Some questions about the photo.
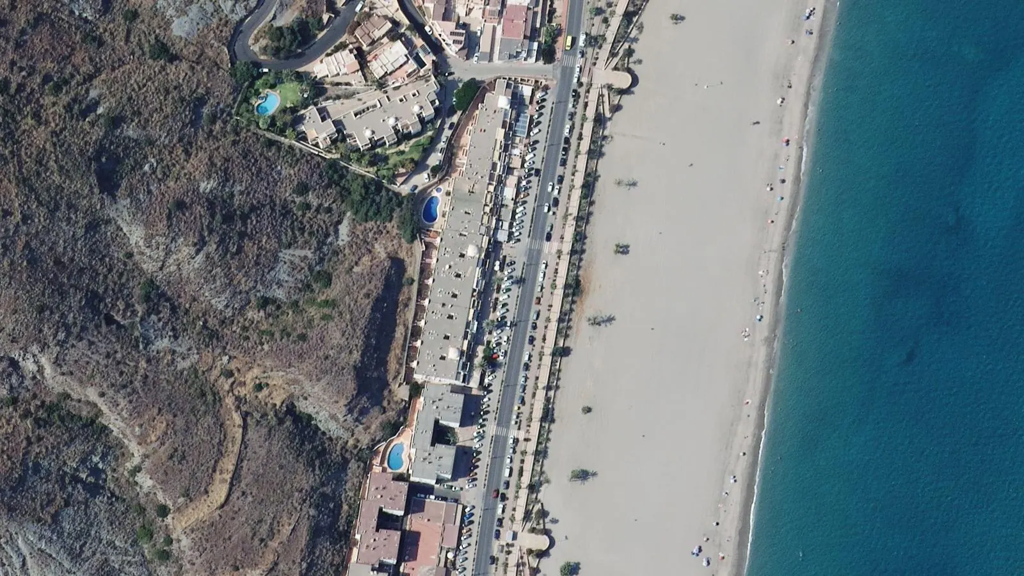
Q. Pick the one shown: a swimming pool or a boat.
swimming pool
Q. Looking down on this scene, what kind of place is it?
beach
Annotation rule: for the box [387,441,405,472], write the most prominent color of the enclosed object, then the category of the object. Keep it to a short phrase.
blue swimming pool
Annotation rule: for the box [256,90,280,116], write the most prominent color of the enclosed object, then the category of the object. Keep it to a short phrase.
blue swimming pool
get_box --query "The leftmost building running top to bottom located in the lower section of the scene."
[356,473,410,567]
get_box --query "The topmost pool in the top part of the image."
[412,51,429,71]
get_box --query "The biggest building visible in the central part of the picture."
[407,174,498,387]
